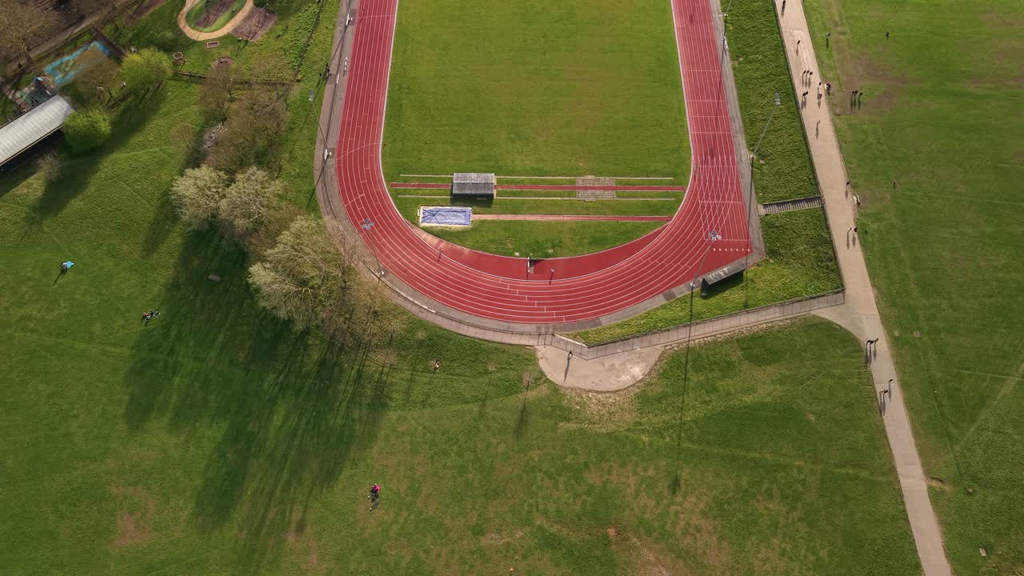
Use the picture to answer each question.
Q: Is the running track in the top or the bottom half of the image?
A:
top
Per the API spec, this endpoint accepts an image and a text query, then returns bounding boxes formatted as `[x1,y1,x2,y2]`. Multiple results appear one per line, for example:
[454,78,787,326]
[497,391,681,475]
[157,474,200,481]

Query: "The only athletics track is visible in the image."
[336,0,750,323]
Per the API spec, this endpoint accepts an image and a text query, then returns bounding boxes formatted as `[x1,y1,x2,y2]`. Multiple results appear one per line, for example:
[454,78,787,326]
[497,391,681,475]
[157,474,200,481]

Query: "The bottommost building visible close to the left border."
[0,94,74,178]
